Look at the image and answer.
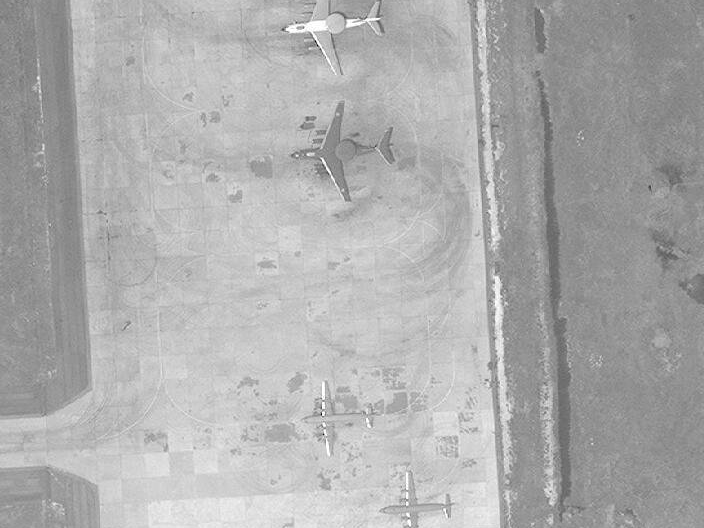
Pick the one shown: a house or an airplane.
airplane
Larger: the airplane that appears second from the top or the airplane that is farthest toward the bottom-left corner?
the airplane that appears second from the top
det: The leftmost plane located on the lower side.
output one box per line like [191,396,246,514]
[302,380,375,456]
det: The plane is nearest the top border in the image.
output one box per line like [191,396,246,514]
[282,0,383,75]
